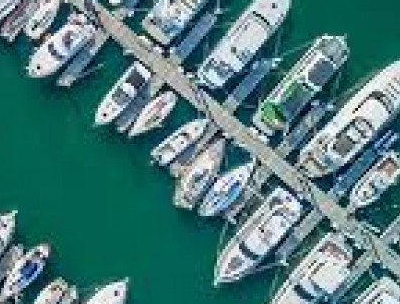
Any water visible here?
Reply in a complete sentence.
Yes, the picture does contain water.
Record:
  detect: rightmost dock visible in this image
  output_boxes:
[374,212,400,245]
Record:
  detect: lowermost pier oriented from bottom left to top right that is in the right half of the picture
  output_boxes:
[328,245,381,304]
